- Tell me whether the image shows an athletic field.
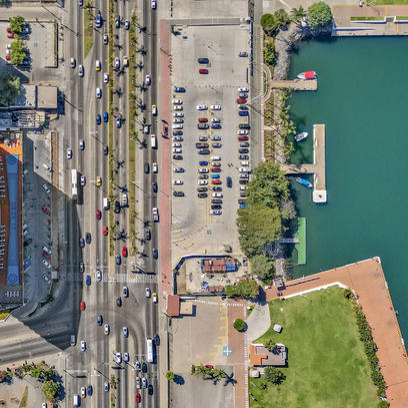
No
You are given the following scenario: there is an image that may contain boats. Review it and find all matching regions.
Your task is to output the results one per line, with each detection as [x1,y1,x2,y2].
[294,134,309,141]
[296,176,313,186]
[298,72,318,79]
